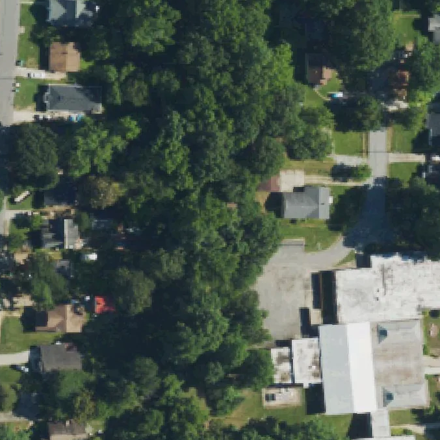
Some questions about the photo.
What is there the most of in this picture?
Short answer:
trees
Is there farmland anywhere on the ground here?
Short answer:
No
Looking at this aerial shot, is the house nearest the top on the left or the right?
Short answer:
left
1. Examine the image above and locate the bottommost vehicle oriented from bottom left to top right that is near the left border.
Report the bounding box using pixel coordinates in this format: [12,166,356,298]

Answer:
[13,188,29,202]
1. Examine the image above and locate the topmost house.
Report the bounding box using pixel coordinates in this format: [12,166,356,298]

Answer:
[49,0,92,24]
